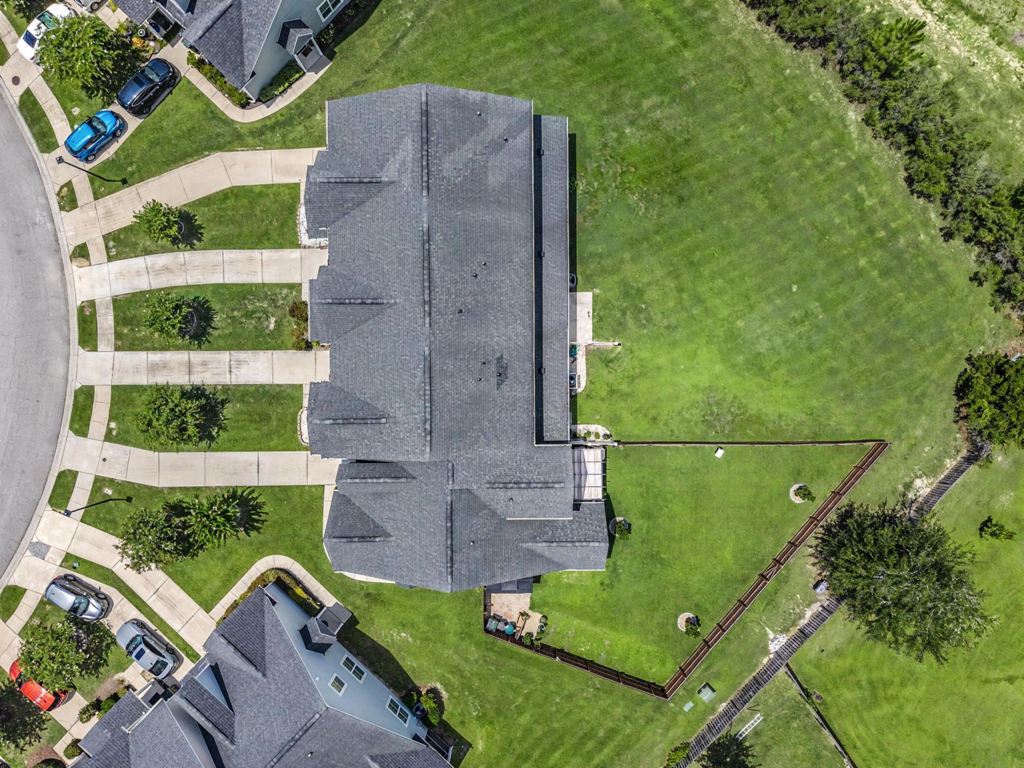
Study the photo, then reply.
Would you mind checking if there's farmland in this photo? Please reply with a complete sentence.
No, the scene doesn't show any farmland.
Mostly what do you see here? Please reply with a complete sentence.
The largest share of the image is taken up by grass.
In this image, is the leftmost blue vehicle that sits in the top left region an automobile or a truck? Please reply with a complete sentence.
It turns out the leftmost blue vehicle that sits in the top left region is an automobile.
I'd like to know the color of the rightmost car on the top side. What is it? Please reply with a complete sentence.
The rightmost car on the top side is black.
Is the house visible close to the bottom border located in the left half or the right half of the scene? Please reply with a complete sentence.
The house visible close to the bottom border appears in the left half of the scene.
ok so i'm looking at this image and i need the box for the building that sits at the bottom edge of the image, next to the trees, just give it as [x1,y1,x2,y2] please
[73,582,453,768]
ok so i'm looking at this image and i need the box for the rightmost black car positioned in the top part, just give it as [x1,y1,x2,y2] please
[115,53,178,118]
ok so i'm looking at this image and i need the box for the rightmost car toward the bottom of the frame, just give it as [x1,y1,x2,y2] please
[113,620,178,680]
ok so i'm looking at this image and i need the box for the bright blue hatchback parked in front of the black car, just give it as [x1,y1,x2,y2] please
[62,107,124,162]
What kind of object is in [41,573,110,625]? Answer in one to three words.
car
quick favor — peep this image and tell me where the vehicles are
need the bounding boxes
[41,573,110,625]
[17,0,81,65]
[62,107,124,162]
[68,0,100,13]
[9,666,72,715]
[113,620,178,680]
[115,53,178,118]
